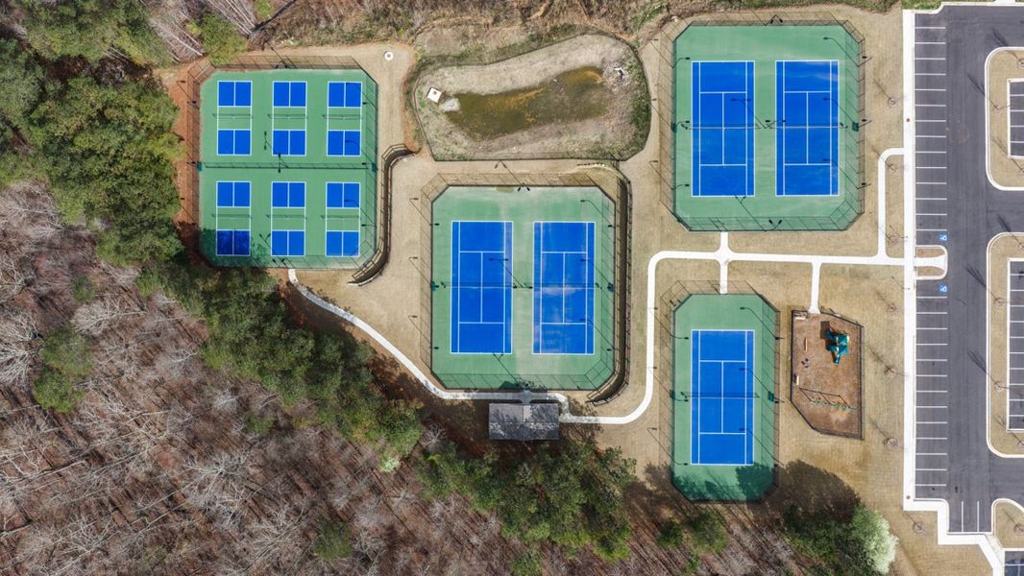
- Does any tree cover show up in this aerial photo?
Yes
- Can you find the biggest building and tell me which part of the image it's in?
bottom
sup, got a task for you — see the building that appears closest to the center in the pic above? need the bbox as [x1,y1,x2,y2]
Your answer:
[488,403,559,442]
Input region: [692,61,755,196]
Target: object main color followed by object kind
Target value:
blue tennis court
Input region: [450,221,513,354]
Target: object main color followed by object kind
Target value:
blue tennis court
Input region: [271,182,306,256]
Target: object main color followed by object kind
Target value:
blue sports court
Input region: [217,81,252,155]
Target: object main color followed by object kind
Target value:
blue sports court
